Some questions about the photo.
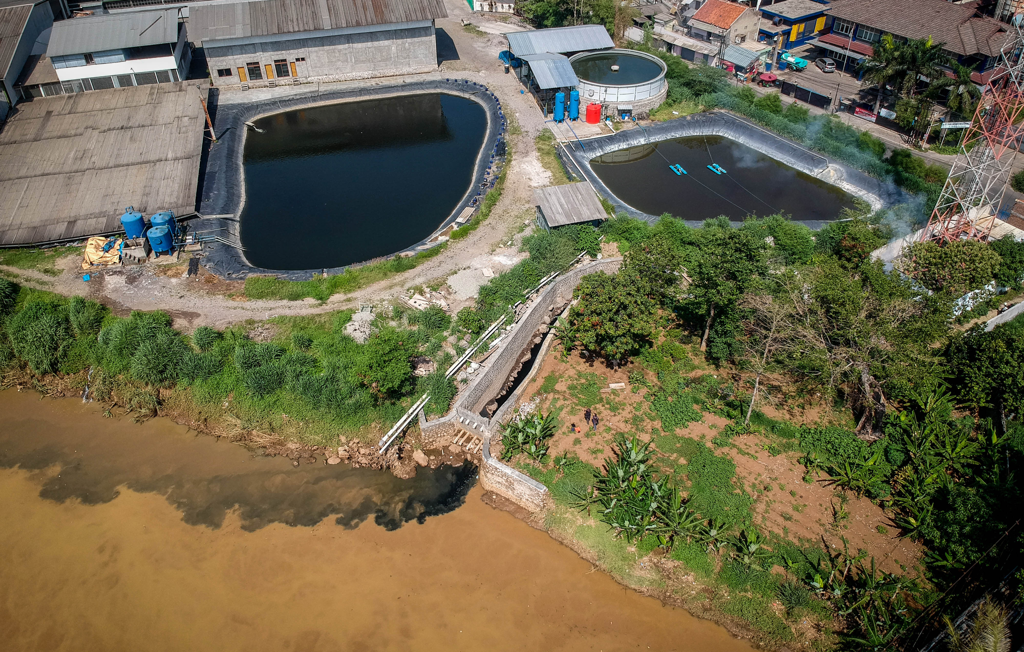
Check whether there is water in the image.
Yes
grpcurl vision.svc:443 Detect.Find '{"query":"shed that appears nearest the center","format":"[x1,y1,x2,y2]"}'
[533,181,609,231]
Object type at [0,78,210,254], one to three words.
shed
